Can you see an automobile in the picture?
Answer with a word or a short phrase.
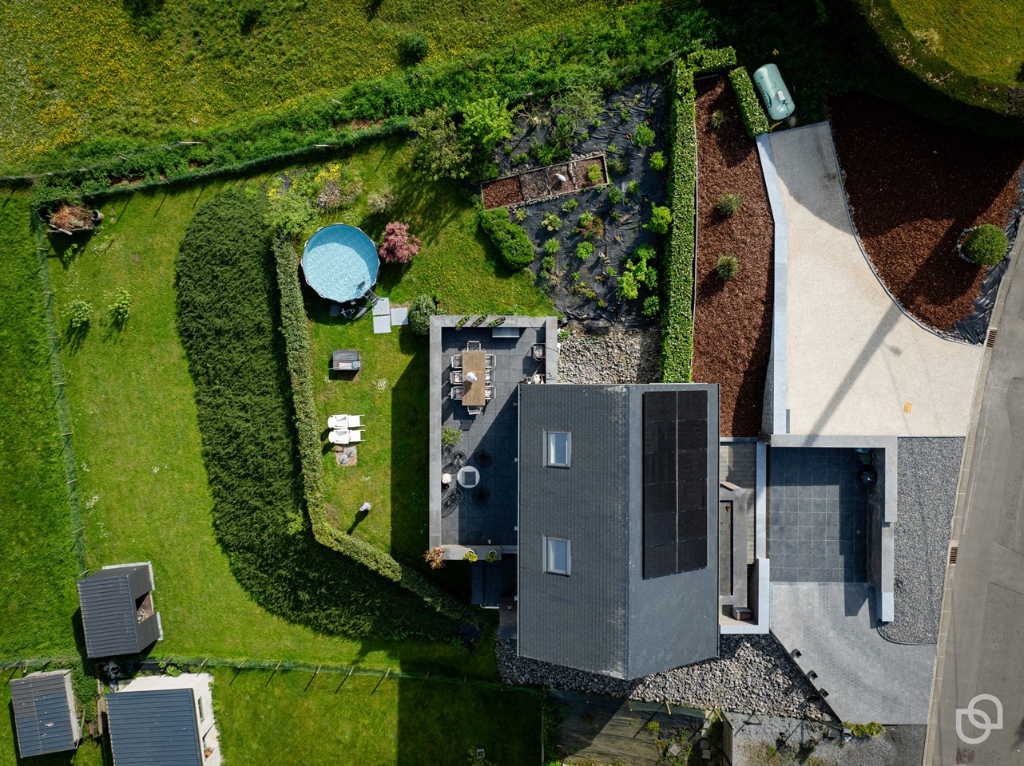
No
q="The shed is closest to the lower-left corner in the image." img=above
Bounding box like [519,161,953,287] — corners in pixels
[9,669,86,758]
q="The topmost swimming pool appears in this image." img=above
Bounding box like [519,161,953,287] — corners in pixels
[300,223,384,305]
